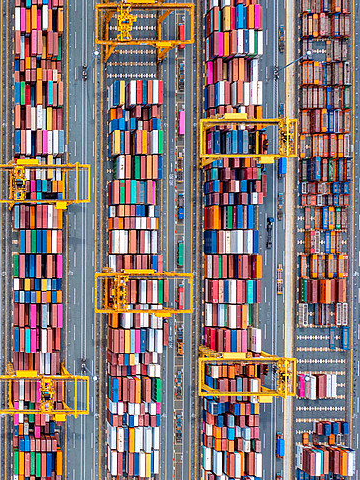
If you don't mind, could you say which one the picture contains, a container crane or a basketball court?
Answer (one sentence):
I can see a container crane in this picture.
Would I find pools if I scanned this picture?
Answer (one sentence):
No, there isn't any pool down there.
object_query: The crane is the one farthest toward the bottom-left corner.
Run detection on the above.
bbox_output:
[0,360,89,422]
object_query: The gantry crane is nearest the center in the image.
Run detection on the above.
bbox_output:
[95,263,194,321]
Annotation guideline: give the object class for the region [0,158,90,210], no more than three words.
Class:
container crane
